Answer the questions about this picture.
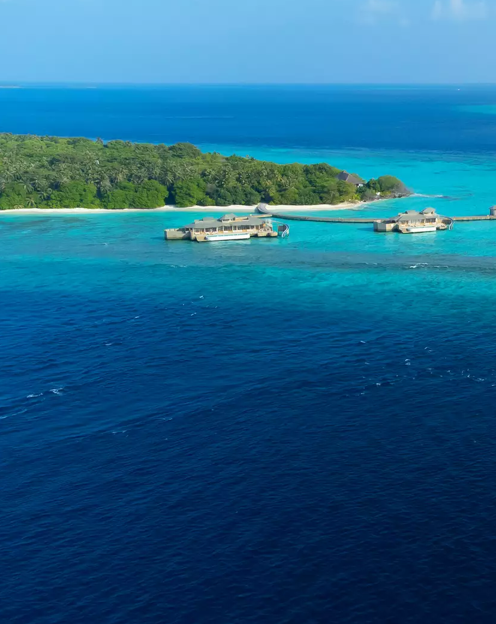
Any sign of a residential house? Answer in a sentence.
Yes, the image includes a residential house.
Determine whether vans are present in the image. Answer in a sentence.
No, this view has no van in it.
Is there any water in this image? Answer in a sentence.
Yes, there's water in this view.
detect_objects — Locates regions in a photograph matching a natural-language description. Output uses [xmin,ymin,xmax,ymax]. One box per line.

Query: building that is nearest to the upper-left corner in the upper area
[168,214,282,242]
